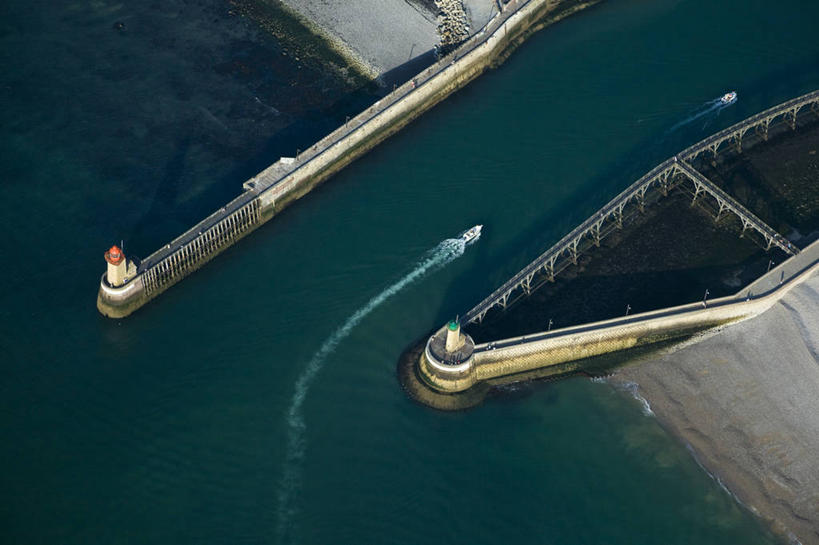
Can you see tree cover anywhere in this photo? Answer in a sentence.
No, the picture contains no tree cover.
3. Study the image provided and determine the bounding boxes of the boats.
[720,91,736,103]
[461,222,482,242]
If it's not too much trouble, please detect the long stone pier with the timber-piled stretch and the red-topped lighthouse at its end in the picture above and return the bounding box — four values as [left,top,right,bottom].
[96,0,569,319]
